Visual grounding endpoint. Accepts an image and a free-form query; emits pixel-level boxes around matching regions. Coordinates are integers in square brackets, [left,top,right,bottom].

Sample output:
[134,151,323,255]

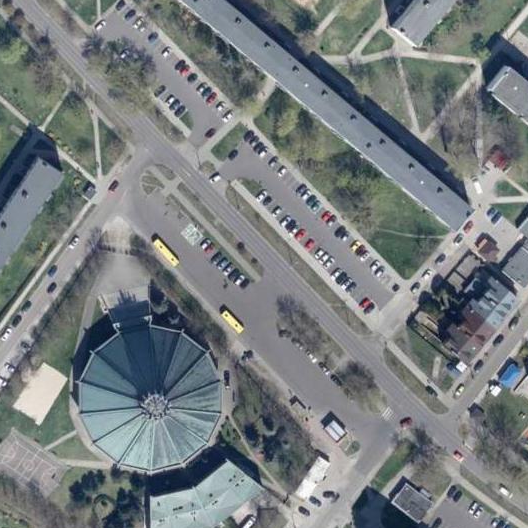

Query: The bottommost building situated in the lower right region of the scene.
[392,482,433,523]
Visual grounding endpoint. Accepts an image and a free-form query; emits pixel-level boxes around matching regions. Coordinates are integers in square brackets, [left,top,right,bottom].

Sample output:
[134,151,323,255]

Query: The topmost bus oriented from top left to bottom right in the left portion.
[151,237,180,265]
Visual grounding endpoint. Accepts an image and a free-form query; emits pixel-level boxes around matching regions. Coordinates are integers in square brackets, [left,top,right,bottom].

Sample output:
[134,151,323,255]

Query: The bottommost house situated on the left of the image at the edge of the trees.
[150,460,264,528]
